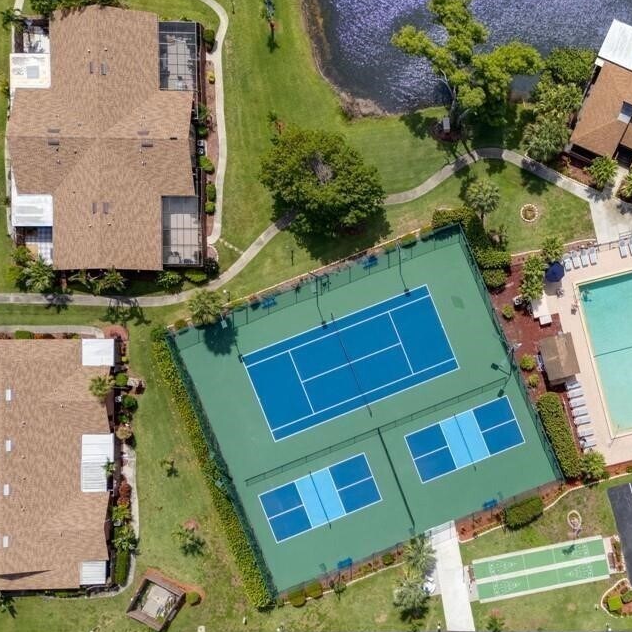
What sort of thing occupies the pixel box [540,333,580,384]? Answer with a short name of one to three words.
building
